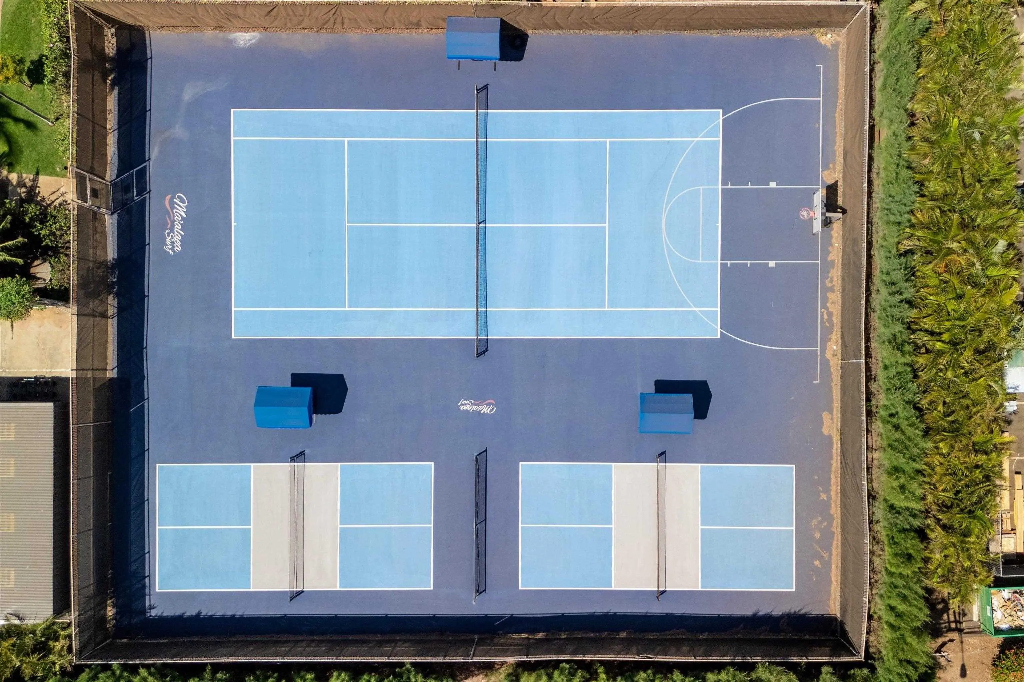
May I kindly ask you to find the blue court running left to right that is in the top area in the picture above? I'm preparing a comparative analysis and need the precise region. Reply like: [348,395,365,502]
[231,109,722,339]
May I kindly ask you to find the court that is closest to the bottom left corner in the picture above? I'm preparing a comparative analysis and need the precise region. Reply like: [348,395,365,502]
[156,463,433,592]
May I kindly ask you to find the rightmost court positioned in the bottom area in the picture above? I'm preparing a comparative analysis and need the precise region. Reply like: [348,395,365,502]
[519,462,795,591]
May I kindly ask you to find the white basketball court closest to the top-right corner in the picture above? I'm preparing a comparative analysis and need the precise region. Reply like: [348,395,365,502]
[662,64,822,383]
